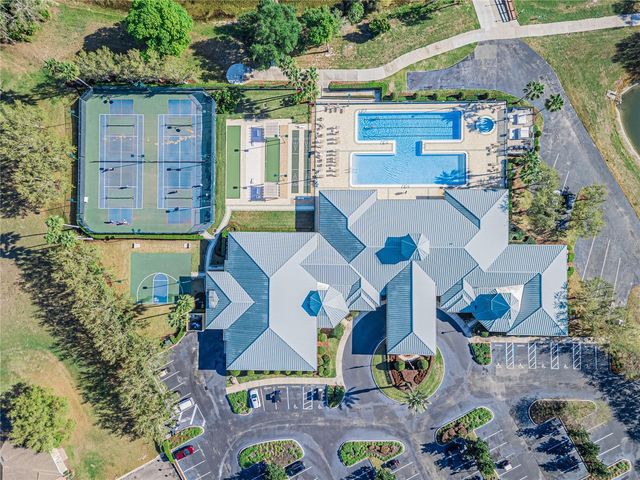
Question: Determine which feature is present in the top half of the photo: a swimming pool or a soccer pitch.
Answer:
swimming pool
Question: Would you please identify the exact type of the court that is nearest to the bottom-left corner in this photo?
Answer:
basketball court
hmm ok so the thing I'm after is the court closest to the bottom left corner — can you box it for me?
[131,253,191,303]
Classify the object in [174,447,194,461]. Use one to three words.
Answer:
car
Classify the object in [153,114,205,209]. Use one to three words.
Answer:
tennis court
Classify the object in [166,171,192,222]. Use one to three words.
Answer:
sports court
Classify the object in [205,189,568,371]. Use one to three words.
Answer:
building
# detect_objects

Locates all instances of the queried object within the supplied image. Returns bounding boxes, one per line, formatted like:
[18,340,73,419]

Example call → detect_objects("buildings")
[205,189,568,371]
[0,438,75,480]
